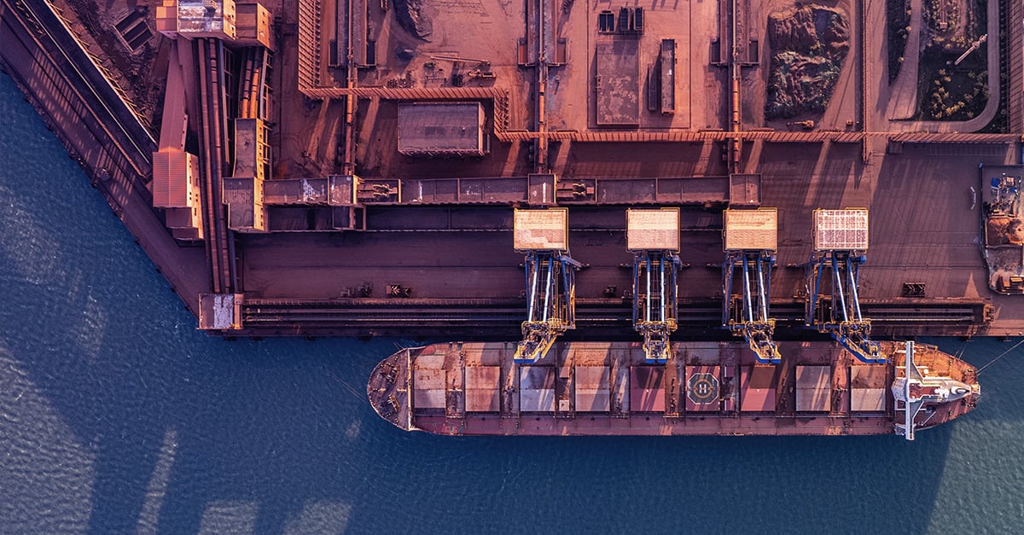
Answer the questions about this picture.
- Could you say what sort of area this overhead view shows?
port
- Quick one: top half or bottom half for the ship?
bottom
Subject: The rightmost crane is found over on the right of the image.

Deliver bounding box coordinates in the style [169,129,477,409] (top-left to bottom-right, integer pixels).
[789,206,883,361]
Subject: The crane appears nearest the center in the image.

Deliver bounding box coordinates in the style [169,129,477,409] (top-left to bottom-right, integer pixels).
[511,206,589,361]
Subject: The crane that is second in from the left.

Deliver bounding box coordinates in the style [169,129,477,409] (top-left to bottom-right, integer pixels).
[618,206,691,361]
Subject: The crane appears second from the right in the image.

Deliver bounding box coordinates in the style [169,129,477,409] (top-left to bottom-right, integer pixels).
[706,206,780,361]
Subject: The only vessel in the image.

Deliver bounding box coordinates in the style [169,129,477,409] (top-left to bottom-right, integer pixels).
[365,342,980,440]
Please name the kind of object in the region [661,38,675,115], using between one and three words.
shed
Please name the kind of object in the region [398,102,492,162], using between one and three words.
building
